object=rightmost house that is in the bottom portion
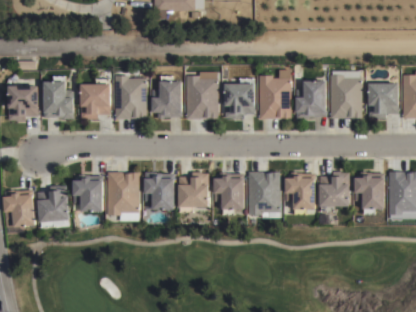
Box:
[389,171,416,220]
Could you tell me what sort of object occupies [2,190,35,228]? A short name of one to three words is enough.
house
